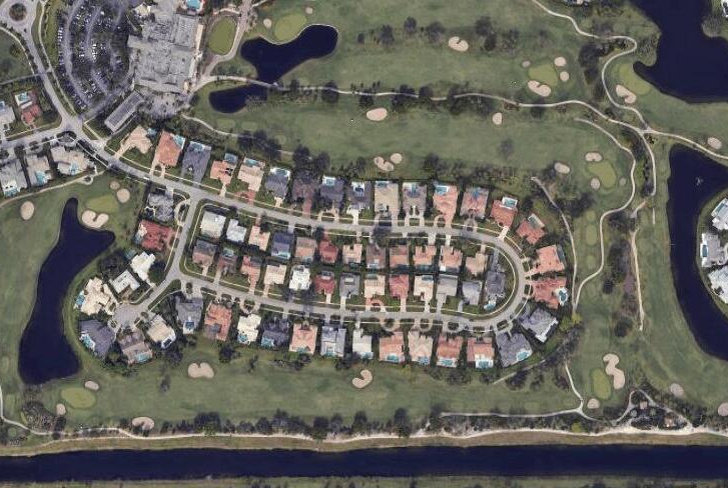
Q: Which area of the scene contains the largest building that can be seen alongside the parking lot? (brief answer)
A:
top left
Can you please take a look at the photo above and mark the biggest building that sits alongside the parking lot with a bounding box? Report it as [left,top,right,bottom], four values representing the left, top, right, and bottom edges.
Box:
[128,3,199,95]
